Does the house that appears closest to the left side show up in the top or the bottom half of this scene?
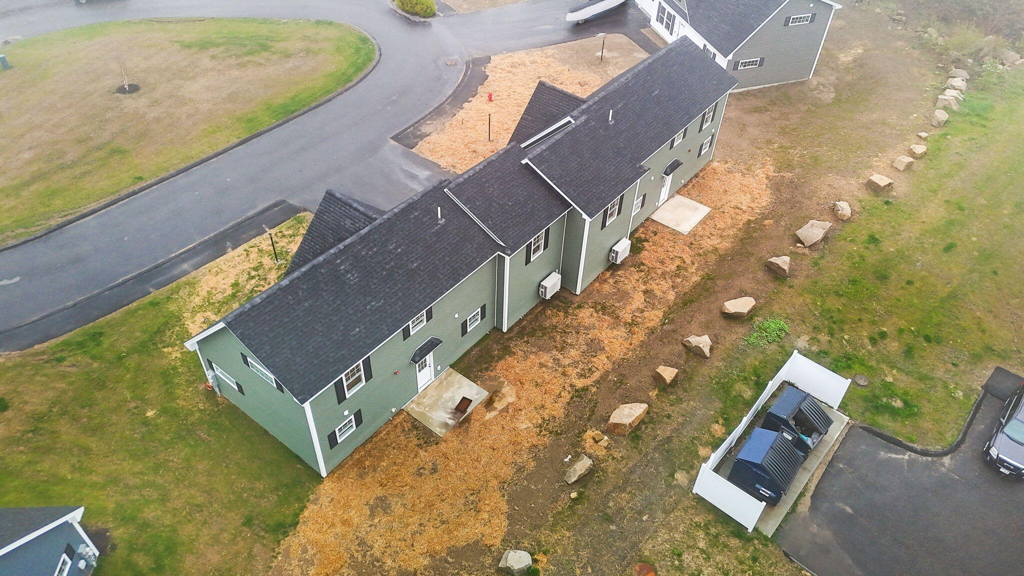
bottom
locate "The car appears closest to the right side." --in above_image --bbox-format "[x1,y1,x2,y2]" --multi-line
[984,390,1024,481]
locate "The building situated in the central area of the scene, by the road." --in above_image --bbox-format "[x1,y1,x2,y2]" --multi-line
[185,37,737,478]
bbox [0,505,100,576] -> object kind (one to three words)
house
